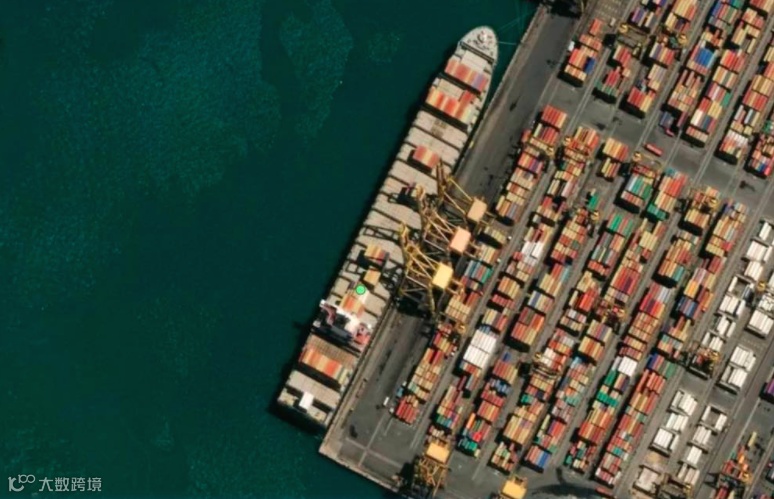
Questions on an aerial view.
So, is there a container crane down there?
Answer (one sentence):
Yes, a container crane is visible in the scene.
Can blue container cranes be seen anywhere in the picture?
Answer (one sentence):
No, no blue container crane is visible in the view.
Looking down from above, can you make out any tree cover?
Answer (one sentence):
No, no tree cover is visible.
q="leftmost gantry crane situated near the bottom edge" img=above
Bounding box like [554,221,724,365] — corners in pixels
[407,435,454,499]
